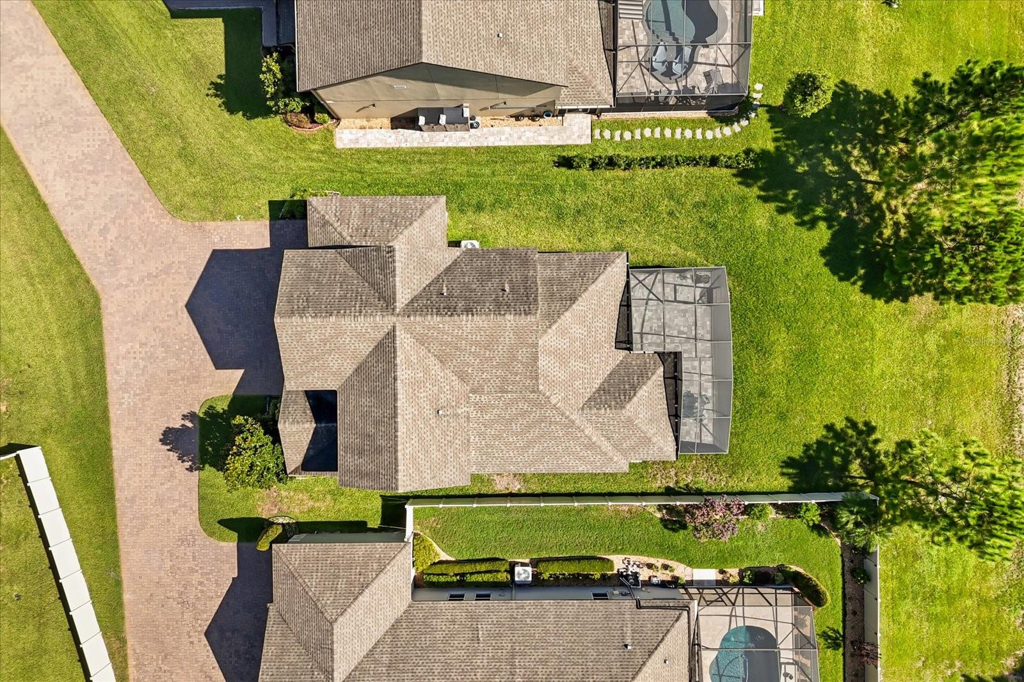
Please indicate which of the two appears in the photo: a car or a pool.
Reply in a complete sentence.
It is a pool that can be seen here.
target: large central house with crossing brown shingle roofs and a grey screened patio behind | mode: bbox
[271,195,679,492]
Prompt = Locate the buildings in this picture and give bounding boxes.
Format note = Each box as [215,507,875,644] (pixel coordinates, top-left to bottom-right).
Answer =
[256,532,697,682]
[276,0,617,122]
[271,195,679,492]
